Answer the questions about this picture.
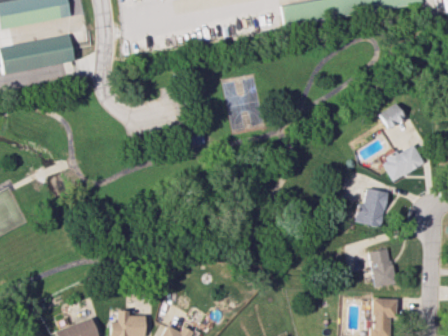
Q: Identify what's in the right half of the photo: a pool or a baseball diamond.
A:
pool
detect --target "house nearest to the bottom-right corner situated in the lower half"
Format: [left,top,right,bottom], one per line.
[370,300,398,336]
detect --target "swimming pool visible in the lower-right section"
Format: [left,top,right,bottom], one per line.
[340,296,372,336]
